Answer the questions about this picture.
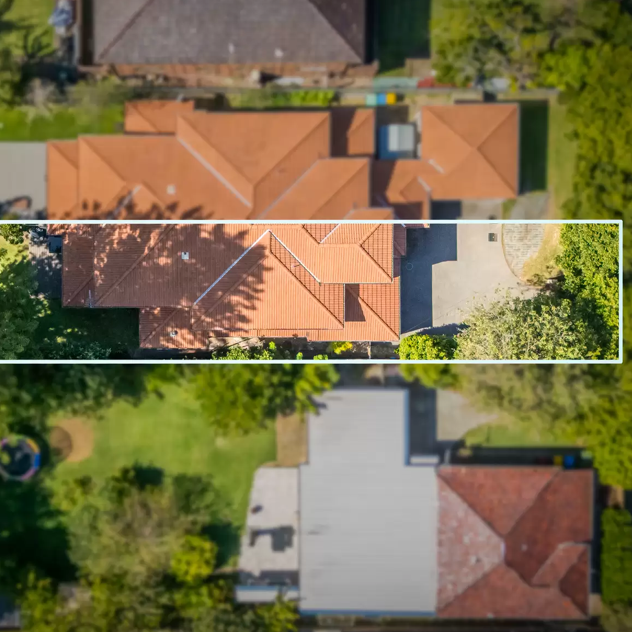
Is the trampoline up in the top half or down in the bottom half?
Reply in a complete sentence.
The trampoline is in the bottom half of the image.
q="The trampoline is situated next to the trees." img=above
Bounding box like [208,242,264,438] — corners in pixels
[0,436,40,486]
